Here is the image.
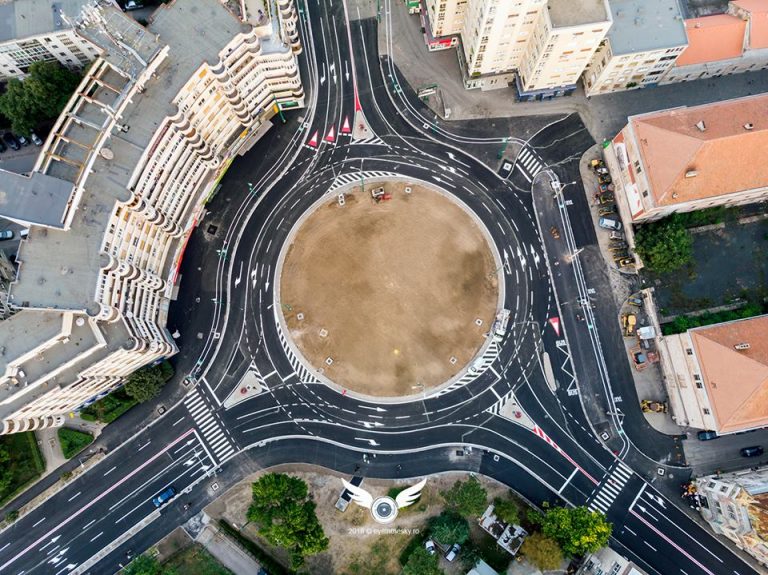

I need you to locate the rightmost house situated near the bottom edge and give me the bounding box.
[694,467,768,568]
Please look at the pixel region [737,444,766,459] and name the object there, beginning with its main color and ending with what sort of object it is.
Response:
black car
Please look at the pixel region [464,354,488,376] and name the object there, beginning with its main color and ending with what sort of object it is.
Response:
white vehicle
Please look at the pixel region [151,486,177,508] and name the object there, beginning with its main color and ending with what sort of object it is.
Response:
blue car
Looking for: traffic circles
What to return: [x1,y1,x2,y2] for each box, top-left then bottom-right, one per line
[214,5,608,481]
